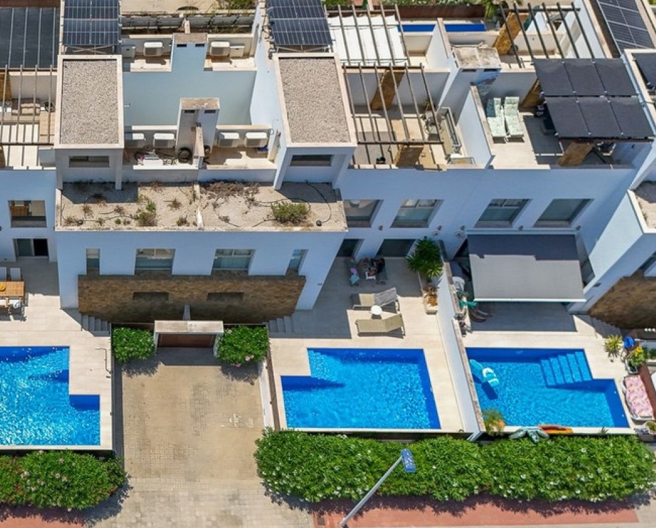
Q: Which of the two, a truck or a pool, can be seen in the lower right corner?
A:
pool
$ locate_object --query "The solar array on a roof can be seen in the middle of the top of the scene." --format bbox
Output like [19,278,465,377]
[266,0,337,54]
